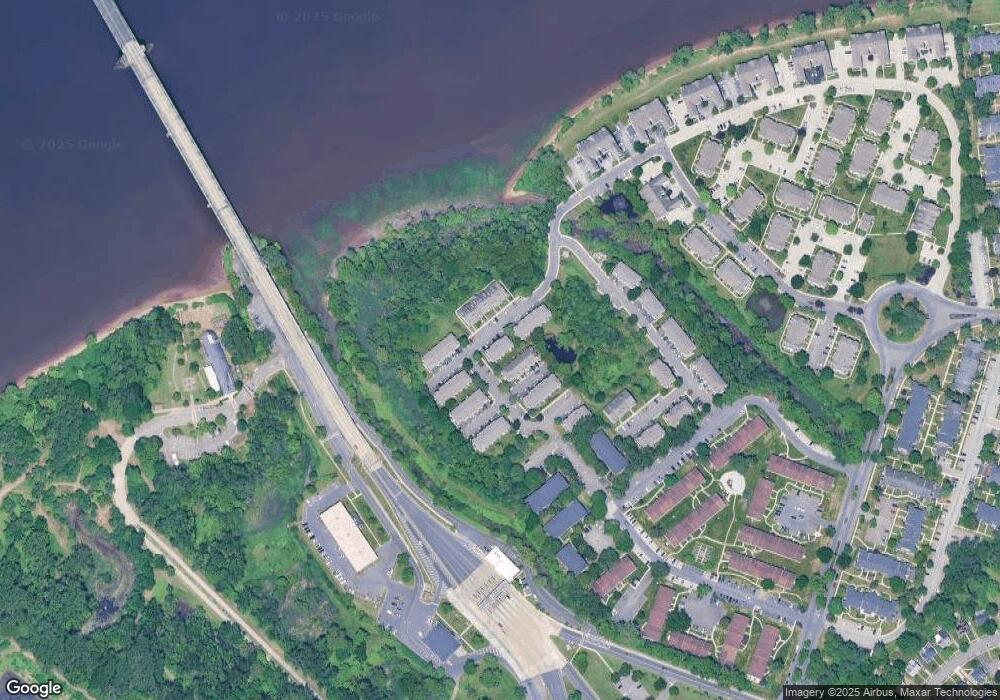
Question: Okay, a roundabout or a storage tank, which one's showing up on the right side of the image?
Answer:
roundabout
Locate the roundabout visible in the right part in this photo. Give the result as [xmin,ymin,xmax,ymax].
[865,282,938,355]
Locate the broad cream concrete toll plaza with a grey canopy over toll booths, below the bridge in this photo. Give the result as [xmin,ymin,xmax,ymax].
[447,558,566,681]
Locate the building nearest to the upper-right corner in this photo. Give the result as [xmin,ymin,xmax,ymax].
[906,22,944,62]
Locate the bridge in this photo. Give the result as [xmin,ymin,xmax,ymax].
[93,0,381,471]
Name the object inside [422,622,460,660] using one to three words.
building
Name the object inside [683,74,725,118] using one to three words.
building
